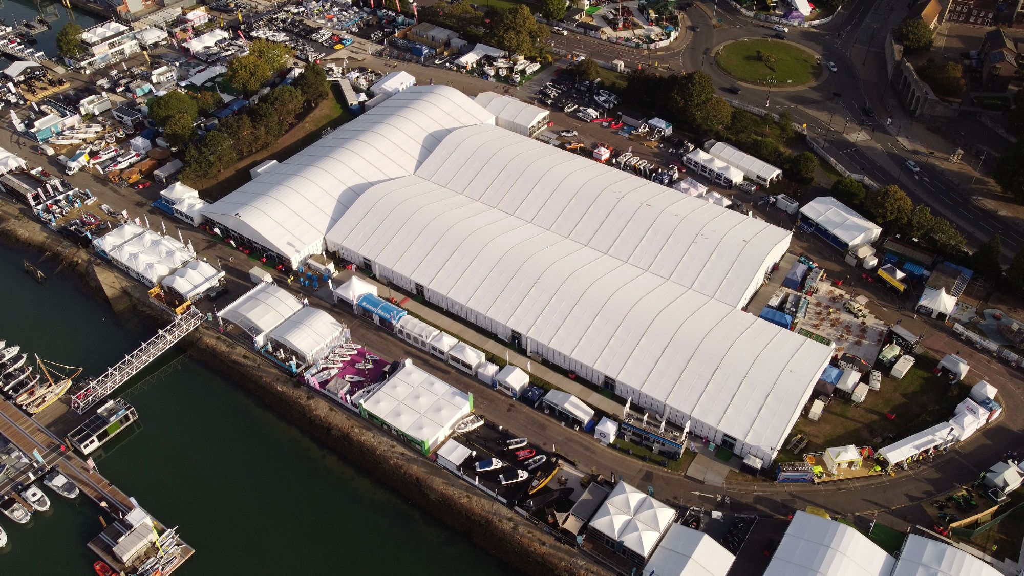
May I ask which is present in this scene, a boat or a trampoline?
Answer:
boat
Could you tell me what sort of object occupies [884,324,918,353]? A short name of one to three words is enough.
building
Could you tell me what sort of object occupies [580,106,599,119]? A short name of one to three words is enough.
boat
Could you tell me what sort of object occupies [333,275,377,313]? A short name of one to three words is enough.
tent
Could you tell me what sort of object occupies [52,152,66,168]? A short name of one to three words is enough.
vehicle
